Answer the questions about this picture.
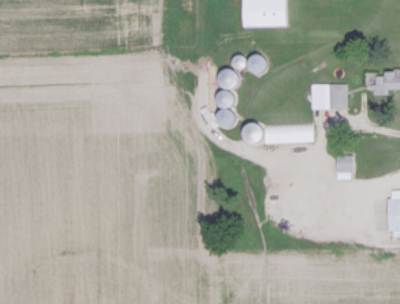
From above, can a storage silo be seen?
Yes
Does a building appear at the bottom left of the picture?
No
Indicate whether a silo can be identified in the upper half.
Yes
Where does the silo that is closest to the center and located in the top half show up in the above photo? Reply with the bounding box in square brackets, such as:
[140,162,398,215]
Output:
[216,109,238,132]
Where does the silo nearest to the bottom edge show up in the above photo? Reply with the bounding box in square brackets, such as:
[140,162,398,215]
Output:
[242,122,265,147]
